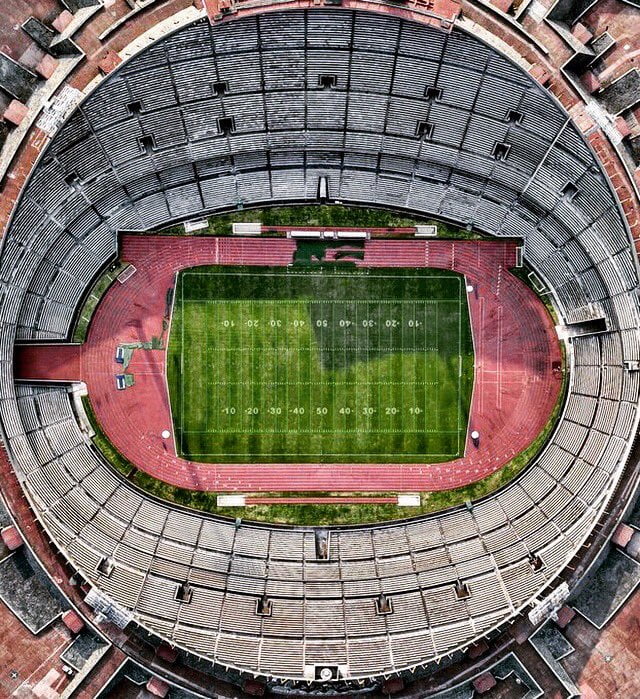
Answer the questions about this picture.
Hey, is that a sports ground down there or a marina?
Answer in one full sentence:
The picture captures a sports ground.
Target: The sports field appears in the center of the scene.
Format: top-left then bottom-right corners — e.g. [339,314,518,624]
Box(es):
[168,266,474,463]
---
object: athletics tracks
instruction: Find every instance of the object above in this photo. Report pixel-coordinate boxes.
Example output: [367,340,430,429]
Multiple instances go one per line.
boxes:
[83,237,562,492]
